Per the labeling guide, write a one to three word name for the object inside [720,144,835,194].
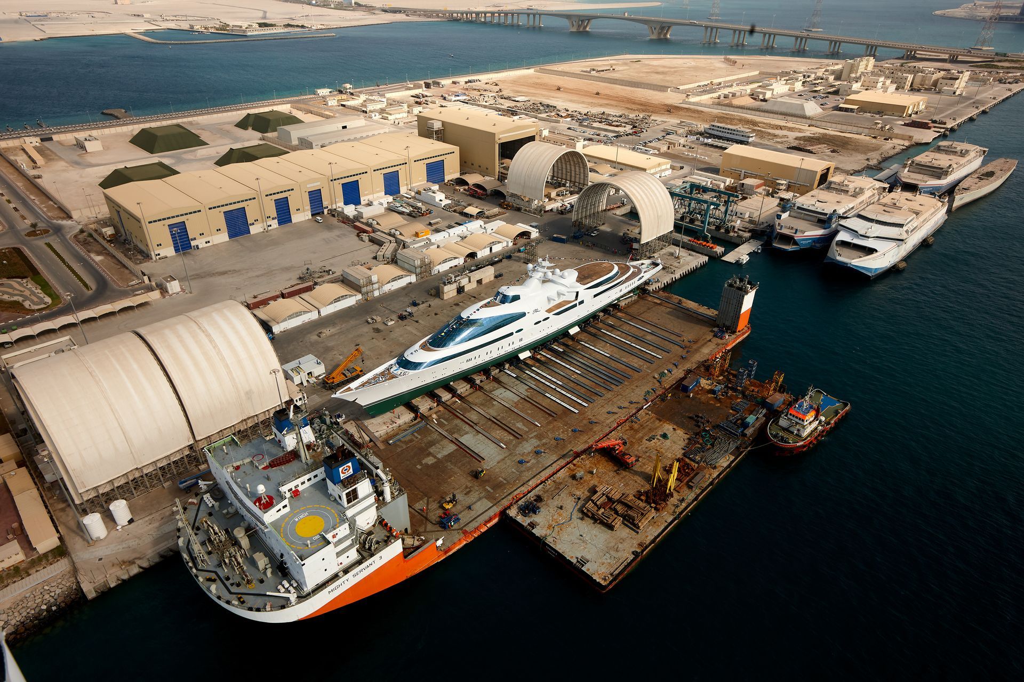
building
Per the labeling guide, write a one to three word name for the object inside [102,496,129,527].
water tank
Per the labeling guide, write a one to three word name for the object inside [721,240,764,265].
pier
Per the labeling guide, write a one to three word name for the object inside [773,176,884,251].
ship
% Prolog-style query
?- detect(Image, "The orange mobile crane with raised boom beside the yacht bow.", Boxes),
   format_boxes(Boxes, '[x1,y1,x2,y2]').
[324,342,370,390]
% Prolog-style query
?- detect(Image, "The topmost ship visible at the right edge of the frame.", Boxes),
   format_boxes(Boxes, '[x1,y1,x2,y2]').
[904,138,982,191]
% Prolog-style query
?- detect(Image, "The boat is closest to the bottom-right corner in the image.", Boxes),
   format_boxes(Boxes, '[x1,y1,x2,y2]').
[761,381,857,454]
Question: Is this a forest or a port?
port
